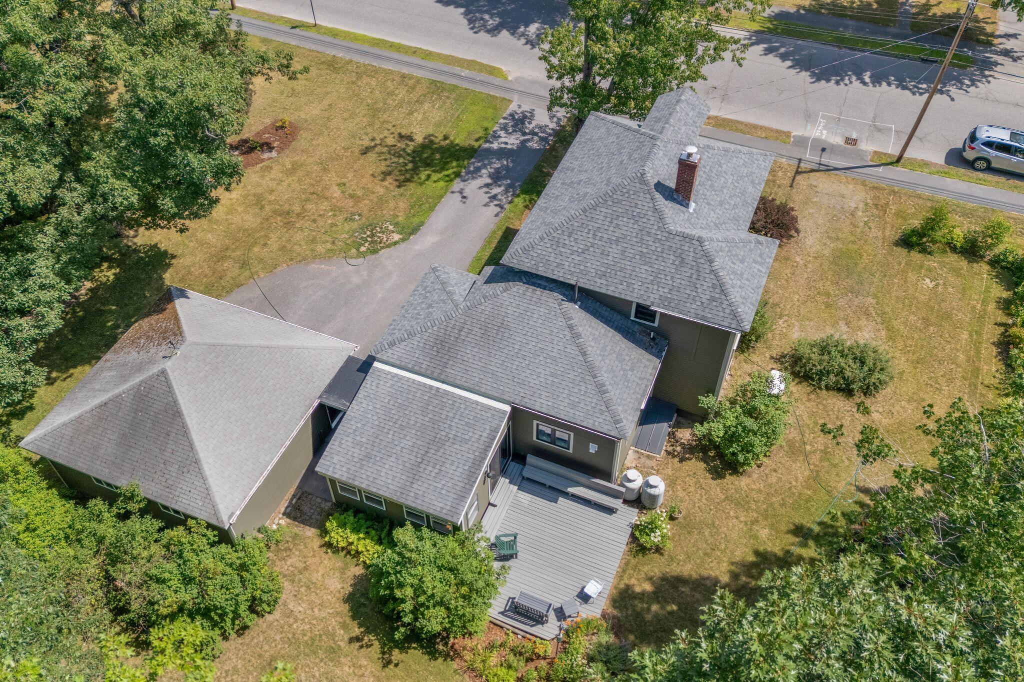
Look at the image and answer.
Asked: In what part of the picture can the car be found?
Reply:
top right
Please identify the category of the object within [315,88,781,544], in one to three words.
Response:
house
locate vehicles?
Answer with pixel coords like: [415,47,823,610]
[968,117,1024,173]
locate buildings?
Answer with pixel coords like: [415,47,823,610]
[19,285,362,550]
[315,88,781,544]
